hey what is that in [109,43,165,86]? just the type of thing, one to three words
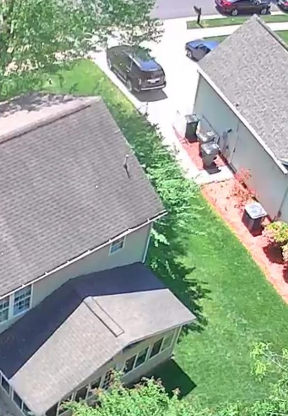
car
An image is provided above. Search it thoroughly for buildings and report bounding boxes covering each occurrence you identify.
[193,16,288,220]
[0,91,194,416]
